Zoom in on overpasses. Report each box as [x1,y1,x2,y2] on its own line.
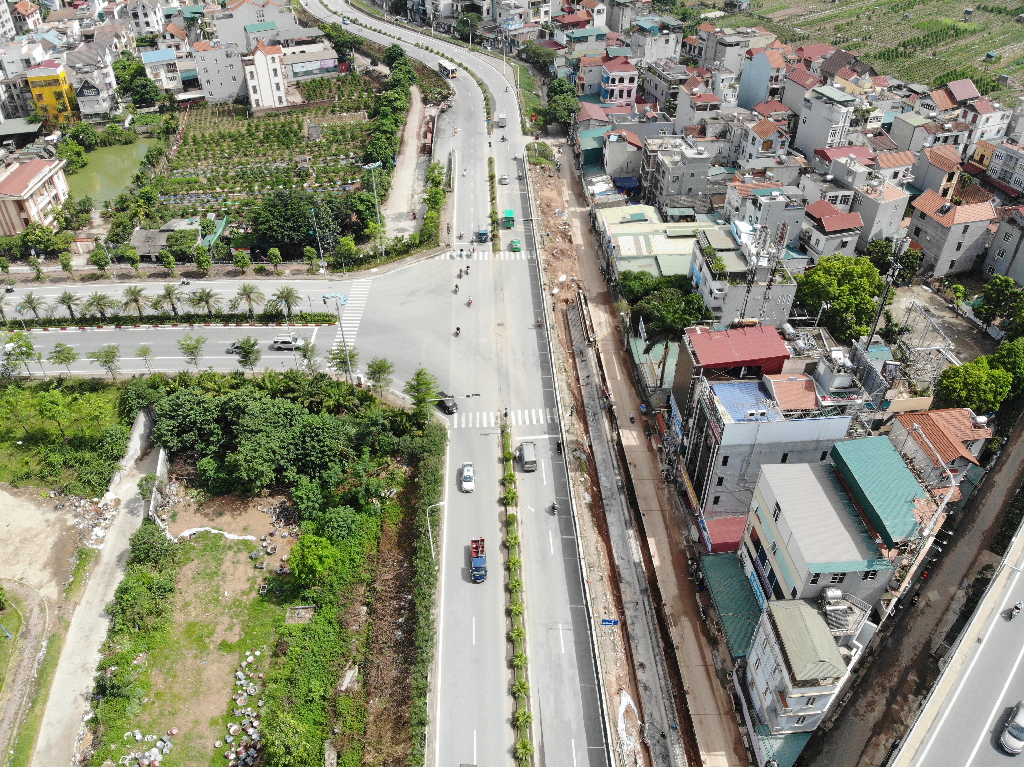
[890,523,1024,767]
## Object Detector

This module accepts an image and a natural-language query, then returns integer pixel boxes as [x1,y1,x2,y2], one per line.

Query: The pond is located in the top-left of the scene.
[71,135,162,216]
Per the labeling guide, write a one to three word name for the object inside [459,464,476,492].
car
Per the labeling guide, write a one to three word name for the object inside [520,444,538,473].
car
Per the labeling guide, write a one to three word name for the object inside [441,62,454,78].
vehicle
